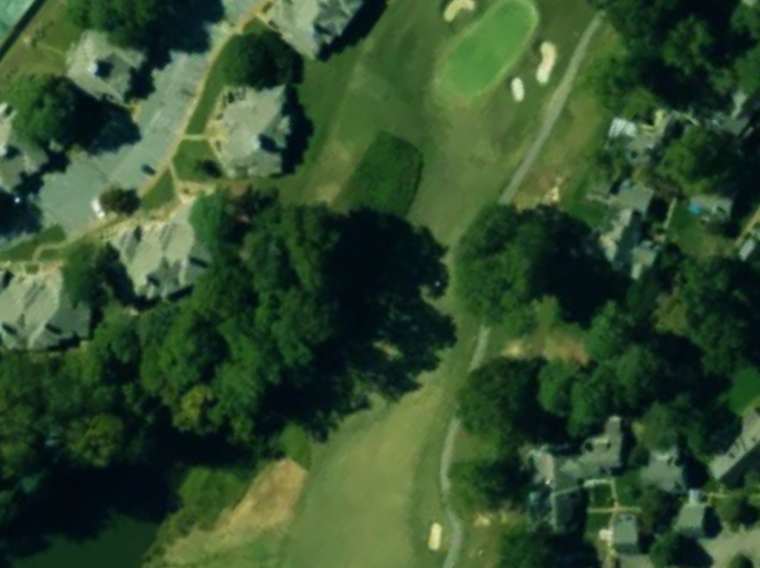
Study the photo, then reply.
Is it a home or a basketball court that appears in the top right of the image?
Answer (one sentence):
What appears in the top right of the image is a home.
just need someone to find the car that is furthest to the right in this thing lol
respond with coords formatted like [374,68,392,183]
[140,163,157,176]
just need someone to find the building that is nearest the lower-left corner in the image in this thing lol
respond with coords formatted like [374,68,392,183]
[0,262,99,356]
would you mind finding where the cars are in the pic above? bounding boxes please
[92,199,107,216]
[140,163,157,176]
